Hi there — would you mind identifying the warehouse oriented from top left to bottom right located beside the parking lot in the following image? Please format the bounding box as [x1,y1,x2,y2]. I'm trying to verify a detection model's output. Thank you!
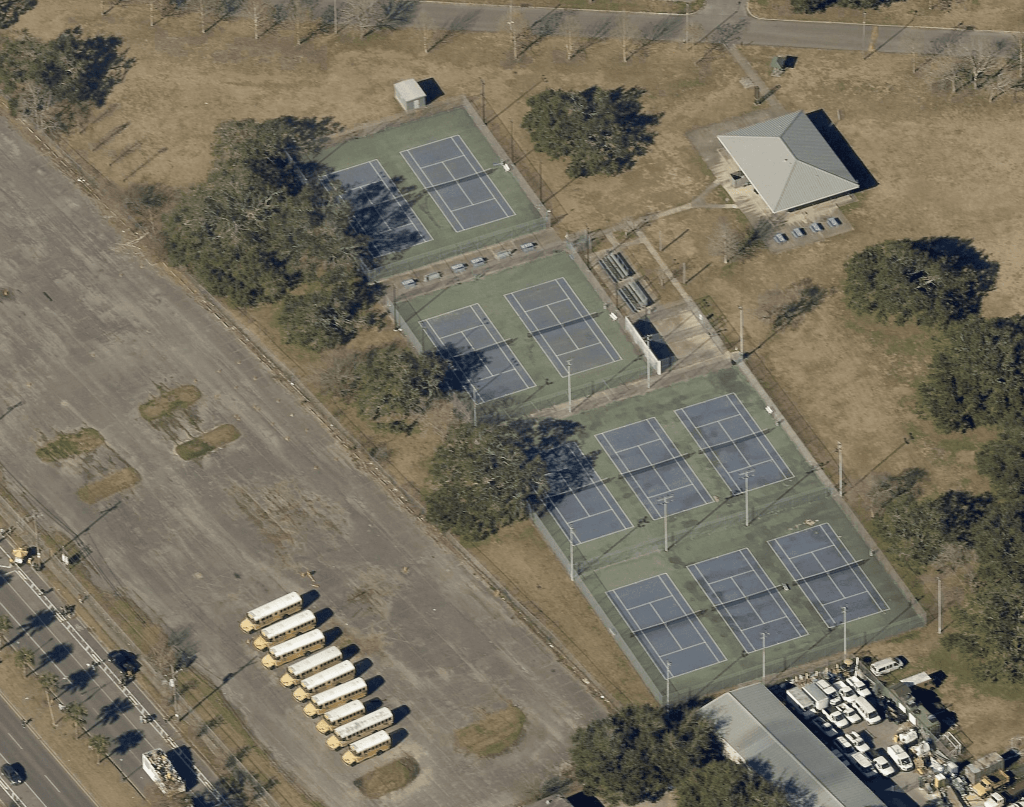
[701,681,888,807]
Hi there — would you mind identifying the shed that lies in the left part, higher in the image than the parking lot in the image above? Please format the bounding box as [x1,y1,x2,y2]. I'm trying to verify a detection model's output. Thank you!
[393,81,424,114]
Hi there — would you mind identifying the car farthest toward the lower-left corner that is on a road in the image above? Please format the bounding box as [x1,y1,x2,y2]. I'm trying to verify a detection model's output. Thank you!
[0,761,25,784]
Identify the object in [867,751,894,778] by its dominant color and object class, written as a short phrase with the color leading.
white truck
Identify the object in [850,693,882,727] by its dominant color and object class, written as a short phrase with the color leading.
white van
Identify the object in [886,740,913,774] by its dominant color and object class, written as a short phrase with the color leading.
white vehicle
